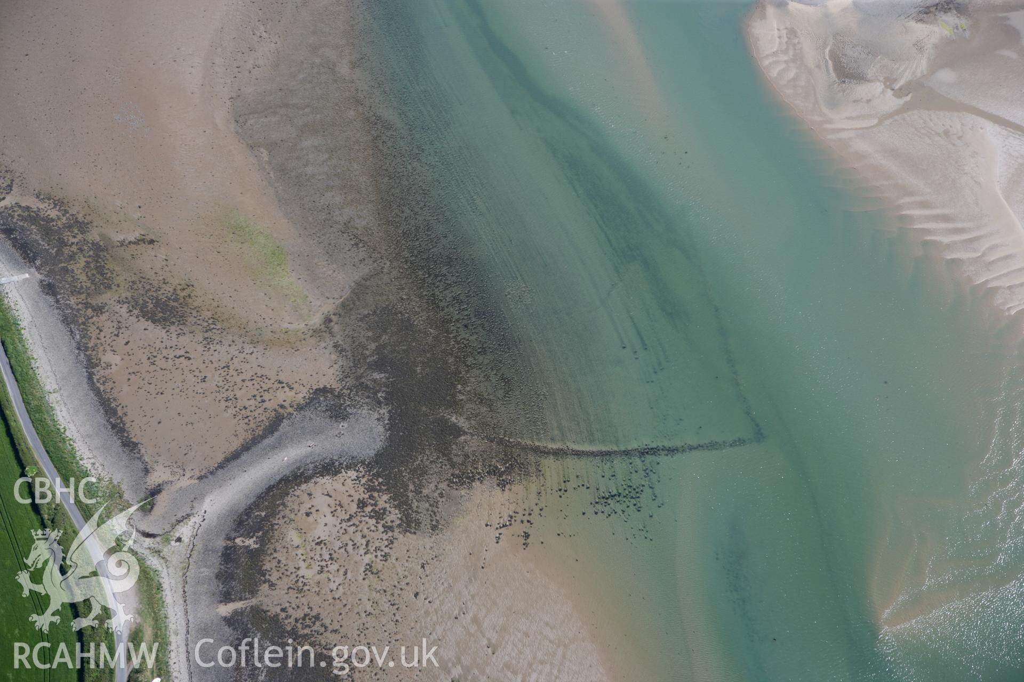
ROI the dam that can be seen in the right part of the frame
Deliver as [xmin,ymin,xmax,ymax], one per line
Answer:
[478,293,762,459]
